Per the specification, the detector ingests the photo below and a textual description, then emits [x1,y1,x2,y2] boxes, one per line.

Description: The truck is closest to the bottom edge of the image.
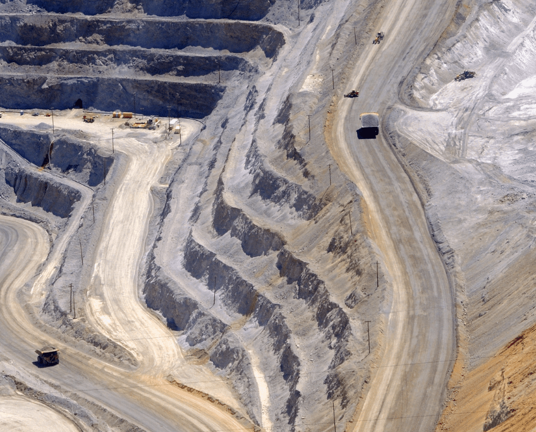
[34,344,62,369]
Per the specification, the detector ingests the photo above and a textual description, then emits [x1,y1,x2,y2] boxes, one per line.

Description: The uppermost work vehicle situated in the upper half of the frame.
[369,28,388,46]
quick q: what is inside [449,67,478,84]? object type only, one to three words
work vehicle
